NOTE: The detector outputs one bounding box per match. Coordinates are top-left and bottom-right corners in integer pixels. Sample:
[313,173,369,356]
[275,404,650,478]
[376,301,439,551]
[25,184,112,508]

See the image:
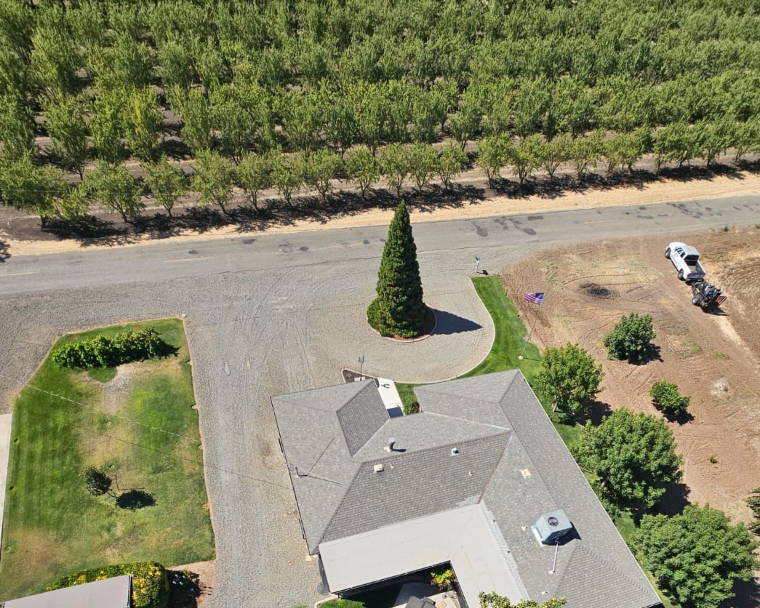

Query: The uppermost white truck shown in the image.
[664,240,708,281]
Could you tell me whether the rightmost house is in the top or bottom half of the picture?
bottom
